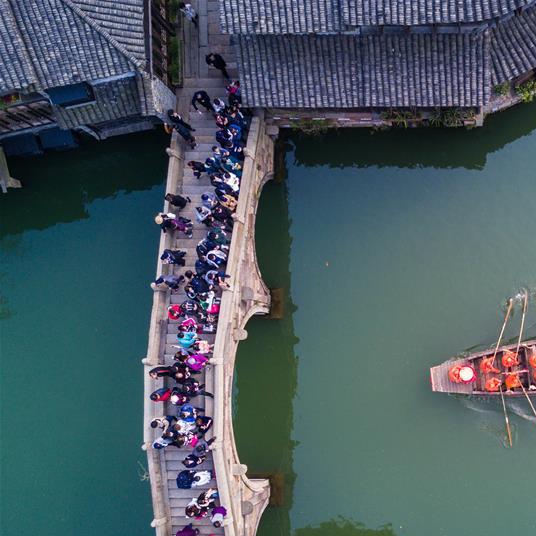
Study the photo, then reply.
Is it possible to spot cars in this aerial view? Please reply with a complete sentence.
No, I find no car anywhere in the image.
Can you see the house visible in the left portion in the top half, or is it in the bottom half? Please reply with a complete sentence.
It is in the top half that the house visible in the left portion appears.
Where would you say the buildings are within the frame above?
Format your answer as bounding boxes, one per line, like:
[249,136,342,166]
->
[0,0,175,164]
[210,0,536,124]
